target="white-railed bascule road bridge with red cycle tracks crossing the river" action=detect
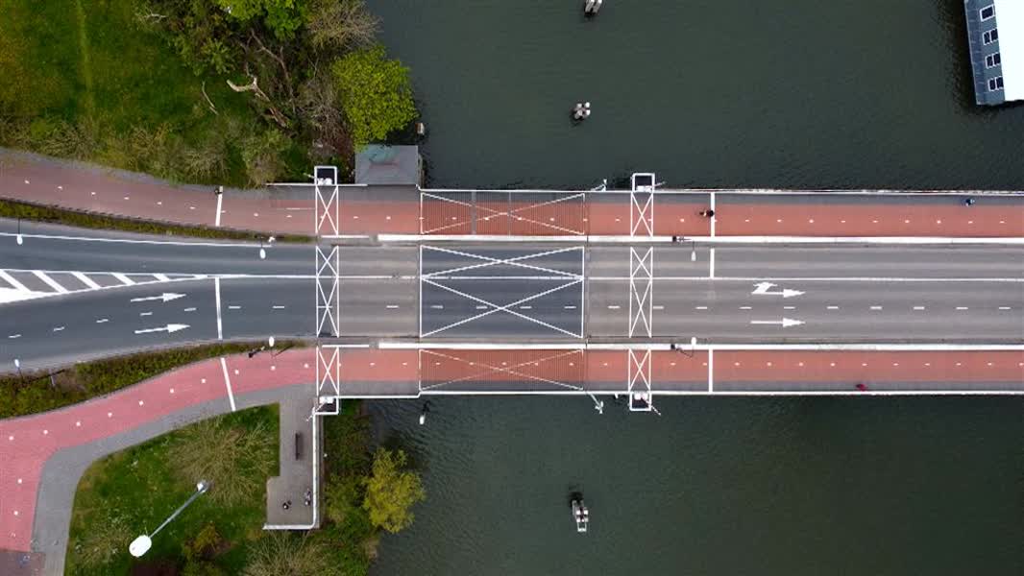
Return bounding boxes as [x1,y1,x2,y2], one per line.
[314,165,1024,414]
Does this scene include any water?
Yes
